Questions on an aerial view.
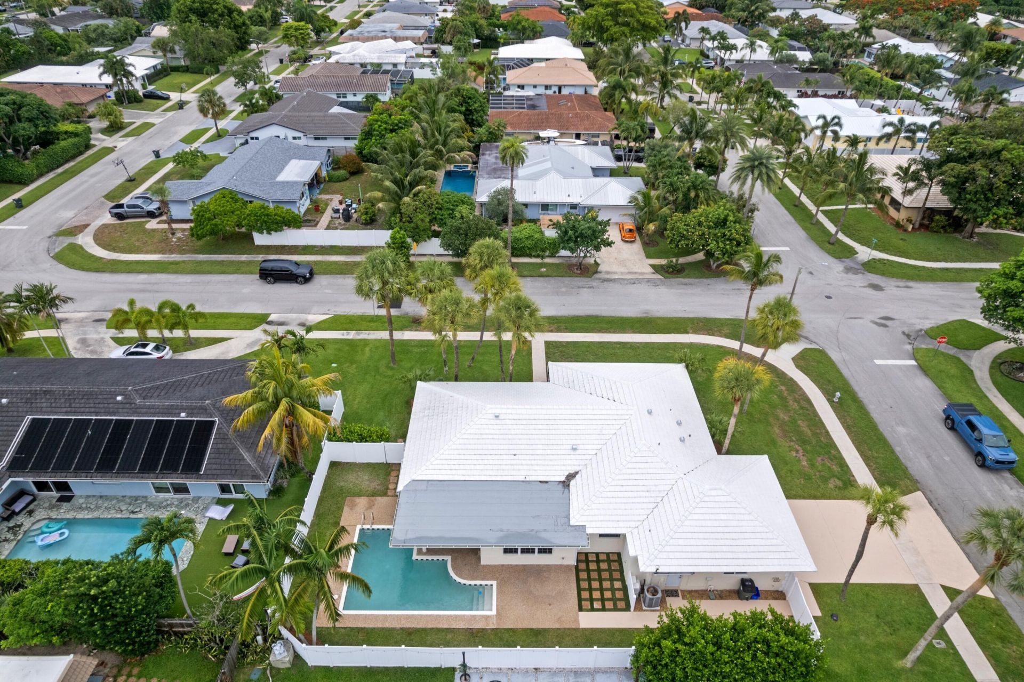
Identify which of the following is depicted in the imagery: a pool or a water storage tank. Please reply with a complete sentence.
This aerial view contains a pool.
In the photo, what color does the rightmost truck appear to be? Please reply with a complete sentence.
The rightmost truck is blue.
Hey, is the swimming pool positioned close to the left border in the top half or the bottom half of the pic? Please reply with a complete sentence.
The bottom half of the photo is where the swimming pool positioned close to the left border is.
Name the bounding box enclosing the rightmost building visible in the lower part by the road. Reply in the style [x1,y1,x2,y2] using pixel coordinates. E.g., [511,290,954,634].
[390,361,818,588]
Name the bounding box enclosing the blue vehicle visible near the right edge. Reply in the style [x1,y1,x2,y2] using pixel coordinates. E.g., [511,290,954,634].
[947,407,1021,476]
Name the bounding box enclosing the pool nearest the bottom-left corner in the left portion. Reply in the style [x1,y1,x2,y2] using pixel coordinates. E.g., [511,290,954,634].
[5,517,187,572]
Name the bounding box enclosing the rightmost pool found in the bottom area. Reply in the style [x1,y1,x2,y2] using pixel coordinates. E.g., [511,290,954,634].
[338,513,497,613]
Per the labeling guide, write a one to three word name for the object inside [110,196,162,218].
truck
